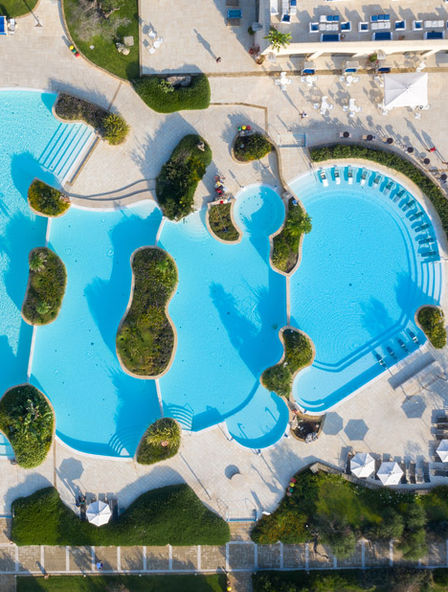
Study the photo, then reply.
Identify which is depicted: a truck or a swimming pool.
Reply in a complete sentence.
There is a swimming pool in the scene.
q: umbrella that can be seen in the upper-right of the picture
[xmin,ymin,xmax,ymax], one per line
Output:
[383,73,428,108]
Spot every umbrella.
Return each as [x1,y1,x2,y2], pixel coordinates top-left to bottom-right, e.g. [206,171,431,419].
[435,439,448,463]
[383,73,428,108]
[85,500,111,526]
[349,453,375,477]
[375,461,403,485]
